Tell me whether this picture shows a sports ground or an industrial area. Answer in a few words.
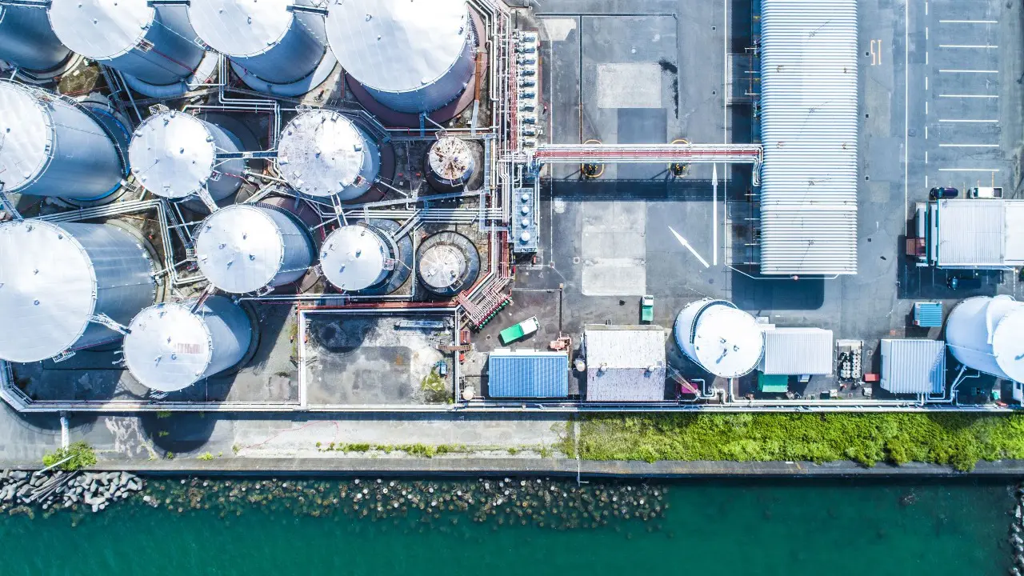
industrial area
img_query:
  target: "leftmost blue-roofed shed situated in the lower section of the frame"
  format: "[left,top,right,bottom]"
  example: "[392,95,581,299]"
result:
[487,349,568,398]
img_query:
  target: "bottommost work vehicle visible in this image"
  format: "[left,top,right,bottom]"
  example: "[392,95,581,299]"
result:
[431,359,452,379]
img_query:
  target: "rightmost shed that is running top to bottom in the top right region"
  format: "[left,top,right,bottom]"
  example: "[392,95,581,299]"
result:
[746,0,857,275]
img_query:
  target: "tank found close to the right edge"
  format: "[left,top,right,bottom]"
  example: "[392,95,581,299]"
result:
[942,288,1024,389]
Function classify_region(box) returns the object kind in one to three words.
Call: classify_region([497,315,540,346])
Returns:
truck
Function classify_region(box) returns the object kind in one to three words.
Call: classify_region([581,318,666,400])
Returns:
shed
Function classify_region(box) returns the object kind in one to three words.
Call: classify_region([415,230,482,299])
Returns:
storage tank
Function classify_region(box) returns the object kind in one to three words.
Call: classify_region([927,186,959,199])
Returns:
vehicle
